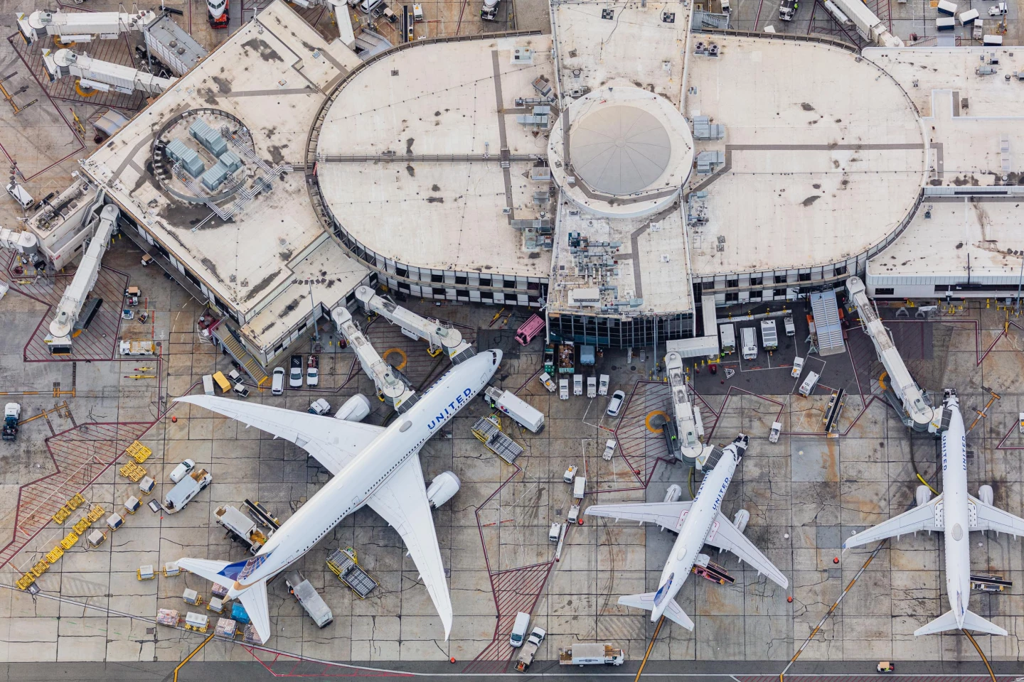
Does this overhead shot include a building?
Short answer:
Yes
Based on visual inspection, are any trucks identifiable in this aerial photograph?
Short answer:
Yes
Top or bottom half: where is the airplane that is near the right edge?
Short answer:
bottom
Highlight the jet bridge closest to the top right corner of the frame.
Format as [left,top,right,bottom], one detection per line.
[814,0,908,45]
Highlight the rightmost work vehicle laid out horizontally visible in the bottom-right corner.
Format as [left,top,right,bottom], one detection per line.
[972,577,1013,591]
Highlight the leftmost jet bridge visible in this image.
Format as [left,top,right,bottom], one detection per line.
[0,228,39,264]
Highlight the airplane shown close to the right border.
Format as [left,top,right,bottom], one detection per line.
[846,390,1024,633]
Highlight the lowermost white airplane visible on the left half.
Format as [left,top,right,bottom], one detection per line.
[172,346,503,645]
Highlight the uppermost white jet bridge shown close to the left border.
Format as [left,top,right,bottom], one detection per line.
[9,9,160,53]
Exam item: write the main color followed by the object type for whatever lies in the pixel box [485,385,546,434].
white truck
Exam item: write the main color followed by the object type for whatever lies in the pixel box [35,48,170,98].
white jet bridge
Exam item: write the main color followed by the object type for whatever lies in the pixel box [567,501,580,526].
white vehicle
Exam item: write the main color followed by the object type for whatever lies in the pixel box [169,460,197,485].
white vehicle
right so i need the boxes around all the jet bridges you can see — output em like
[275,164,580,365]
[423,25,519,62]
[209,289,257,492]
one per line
[814,0,908,45]
[35,48,170,98]
[656,350,724,475]
[0,228,39,264]
[39,205,121,361]
[332,308,420,414]
[287,0,348,14]
[355,286,480,362]
[843,278,951,435]
[9,9,160,53]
